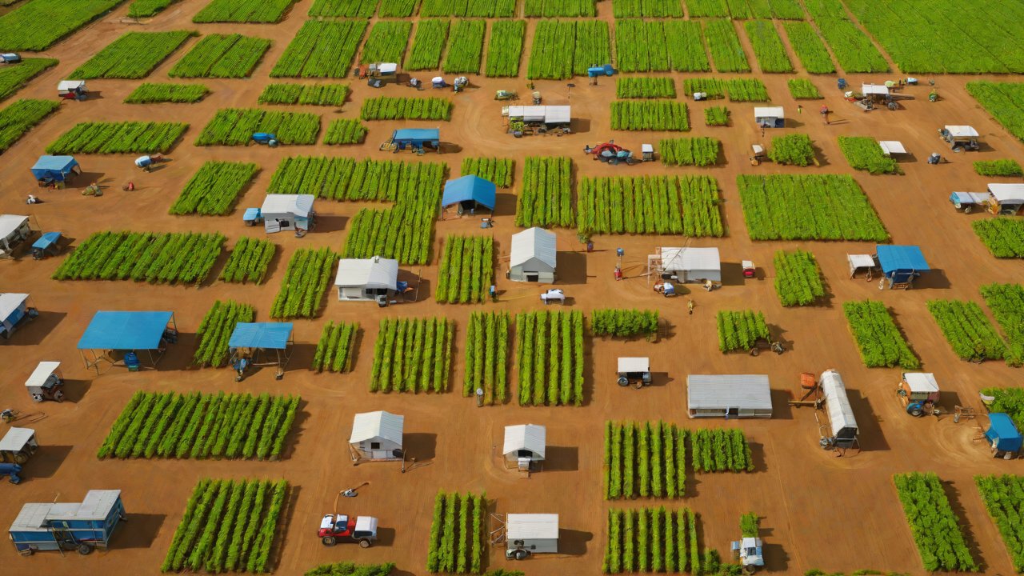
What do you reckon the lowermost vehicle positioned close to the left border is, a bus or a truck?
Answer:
bus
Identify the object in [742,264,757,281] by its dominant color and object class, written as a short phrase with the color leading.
red car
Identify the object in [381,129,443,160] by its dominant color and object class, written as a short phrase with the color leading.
blue trailer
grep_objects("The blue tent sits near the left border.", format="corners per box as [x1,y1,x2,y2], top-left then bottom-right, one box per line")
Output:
[31,155,82,184]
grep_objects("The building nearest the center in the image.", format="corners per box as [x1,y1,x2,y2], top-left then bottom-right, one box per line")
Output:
[510,227,557,282]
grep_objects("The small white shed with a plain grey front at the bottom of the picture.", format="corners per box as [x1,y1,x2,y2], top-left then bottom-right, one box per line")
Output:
[506,513,559,552]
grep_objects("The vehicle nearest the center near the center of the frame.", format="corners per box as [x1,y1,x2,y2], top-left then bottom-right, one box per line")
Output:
[538,288,567,307]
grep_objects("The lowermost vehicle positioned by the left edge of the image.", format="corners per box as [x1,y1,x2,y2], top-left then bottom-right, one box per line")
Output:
[7,489,139,561]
